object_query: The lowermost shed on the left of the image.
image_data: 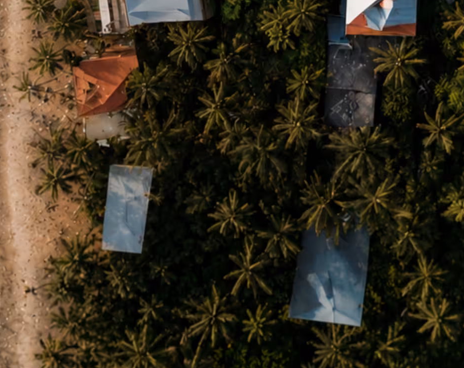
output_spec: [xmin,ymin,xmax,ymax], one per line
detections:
[103,161,154,253]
